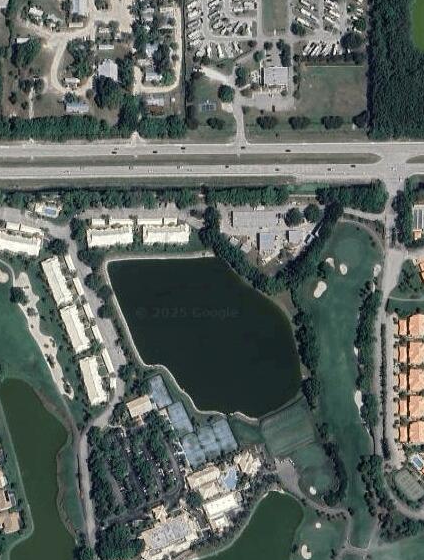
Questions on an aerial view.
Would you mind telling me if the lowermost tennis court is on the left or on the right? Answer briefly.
right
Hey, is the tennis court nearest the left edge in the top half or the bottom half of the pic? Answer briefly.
bottom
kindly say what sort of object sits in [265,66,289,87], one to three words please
building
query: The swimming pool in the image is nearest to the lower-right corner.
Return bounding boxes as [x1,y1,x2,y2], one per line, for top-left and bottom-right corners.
[410,453,424,474]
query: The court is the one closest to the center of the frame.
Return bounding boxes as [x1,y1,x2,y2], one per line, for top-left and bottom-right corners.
[147,377,174,410]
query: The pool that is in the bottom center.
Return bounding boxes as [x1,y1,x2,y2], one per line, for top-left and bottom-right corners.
[219,461,244,494]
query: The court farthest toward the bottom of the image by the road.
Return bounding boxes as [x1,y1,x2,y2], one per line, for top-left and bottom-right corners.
[394,466,424,503]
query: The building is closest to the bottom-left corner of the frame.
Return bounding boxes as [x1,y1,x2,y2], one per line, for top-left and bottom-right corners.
[0,510,21,532]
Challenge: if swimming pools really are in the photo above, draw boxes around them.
[35,201,62,218]
[219,461,244,494]
[410,453,424,474]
